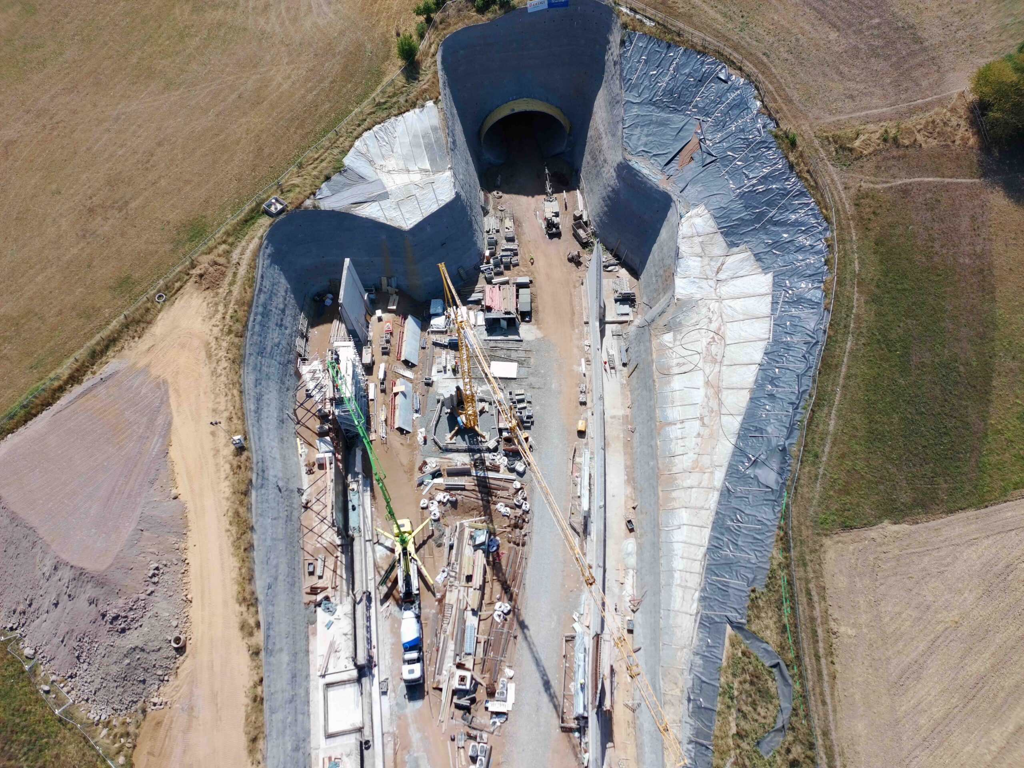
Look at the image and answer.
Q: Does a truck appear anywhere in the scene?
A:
Yes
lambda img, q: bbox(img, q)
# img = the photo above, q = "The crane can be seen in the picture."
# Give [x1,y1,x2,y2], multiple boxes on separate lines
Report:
[434,262,695,765]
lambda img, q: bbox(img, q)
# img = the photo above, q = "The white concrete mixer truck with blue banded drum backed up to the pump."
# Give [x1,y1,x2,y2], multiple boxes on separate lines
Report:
[397,608,422,686]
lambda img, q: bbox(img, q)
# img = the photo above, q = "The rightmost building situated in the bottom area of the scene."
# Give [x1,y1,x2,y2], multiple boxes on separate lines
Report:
[452,670,472,693]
